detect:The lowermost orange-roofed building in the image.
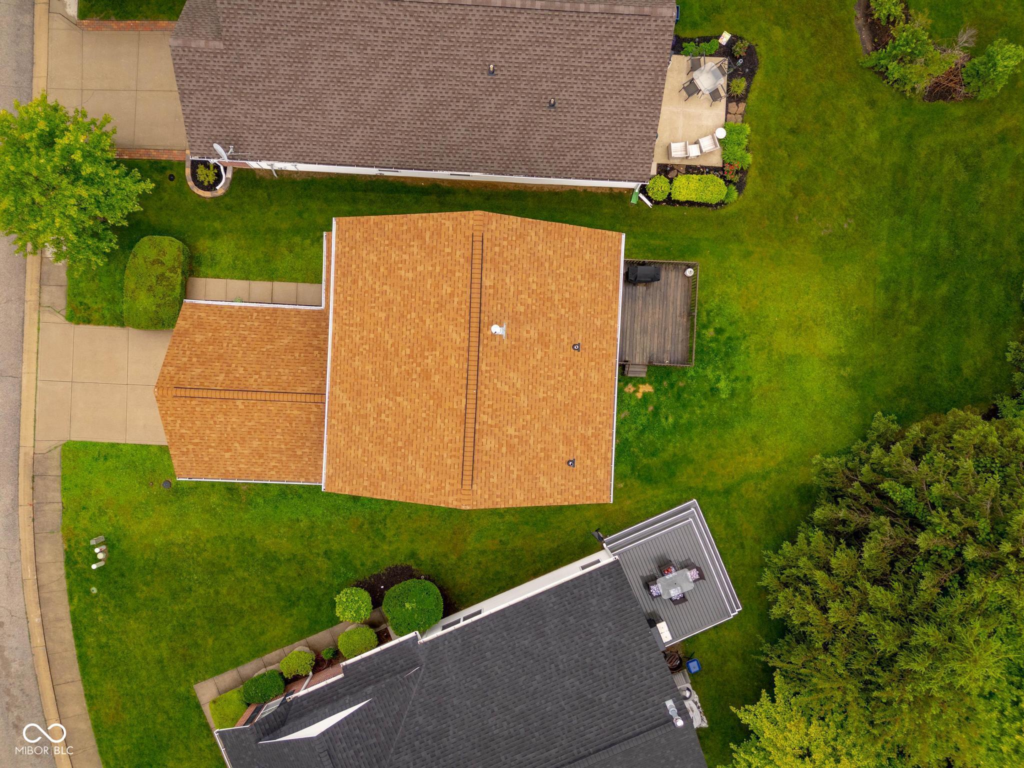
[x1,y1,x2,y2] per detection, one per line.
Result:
[156,210,626,509]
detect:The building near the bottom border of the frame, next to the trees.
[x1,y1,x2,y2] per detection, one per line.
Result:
[212,535,712,768]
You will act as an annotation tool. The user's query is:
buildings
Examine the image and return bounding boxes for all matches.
[212,535,712,768]
[156,210,626,509]
[169,0,675,201]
